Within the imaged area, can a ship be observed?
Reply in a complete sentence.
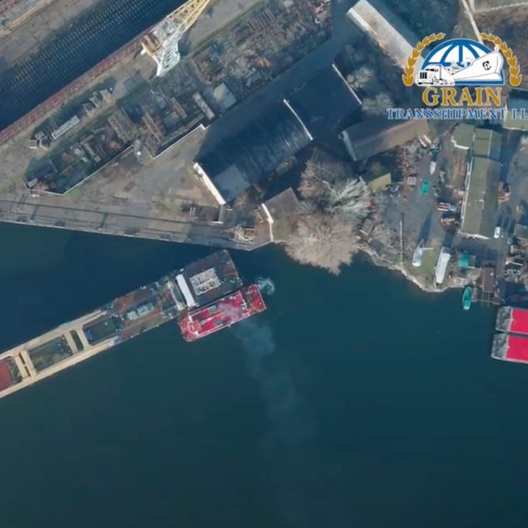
Yes, there's a ship here.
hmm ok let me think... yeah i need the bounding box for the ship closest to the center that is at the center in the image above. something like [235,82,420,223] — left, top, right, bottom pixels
[181,284,267,340]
